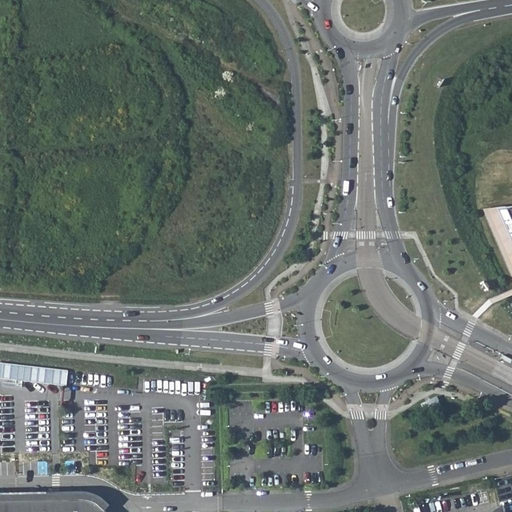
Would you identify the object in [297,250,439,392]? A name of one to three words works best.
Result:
roundabout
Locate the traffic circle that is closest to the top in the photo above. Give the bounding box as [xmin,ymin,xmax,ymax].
[314,0,412,58]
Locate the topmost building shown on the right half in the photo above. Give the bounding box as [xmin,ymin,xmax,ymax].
[484,206,512,276]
